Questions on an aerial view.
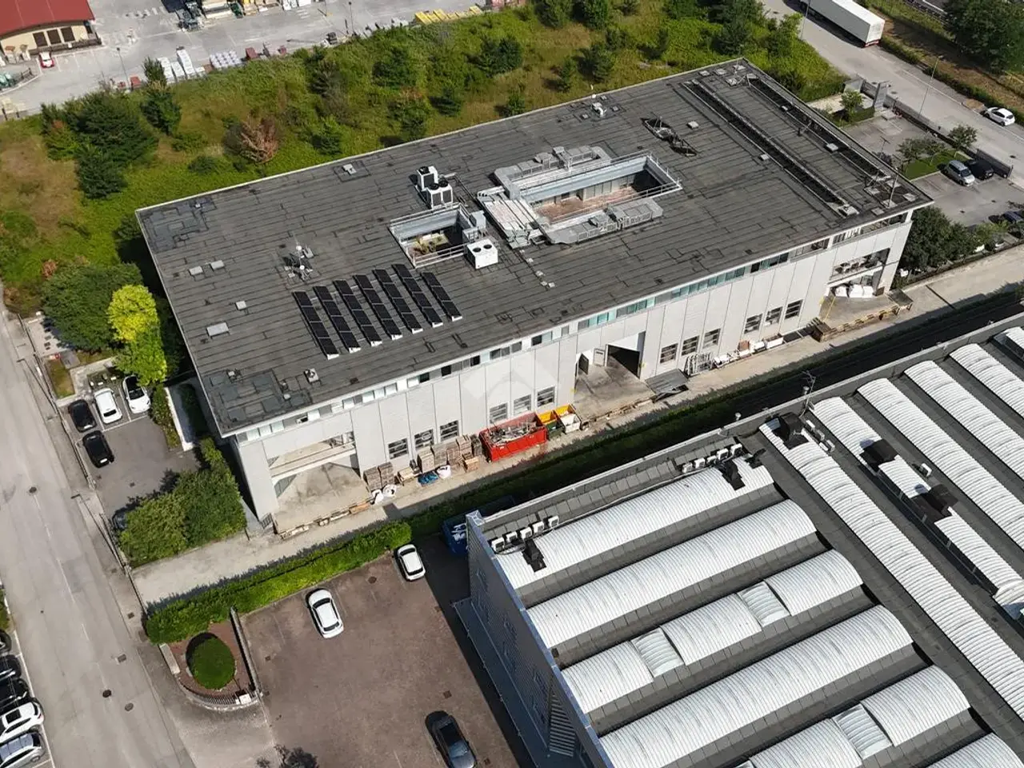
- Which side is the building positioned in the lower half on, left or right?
right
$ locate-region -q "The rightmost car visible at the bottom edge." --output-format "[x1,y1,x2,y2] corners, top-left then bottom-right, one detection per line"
[427,707,474,768]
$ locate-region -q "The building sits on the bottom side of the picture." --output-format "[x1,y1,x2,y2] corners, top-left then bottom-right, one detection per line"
[457,312,1024,768]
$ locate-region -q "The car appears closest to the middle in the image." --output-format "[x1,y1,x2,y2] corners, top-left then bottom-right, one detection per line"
[393,544,429,586]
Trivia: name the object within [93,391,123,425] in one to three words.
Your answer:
car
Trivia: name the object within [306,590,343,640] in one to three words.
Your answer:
car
